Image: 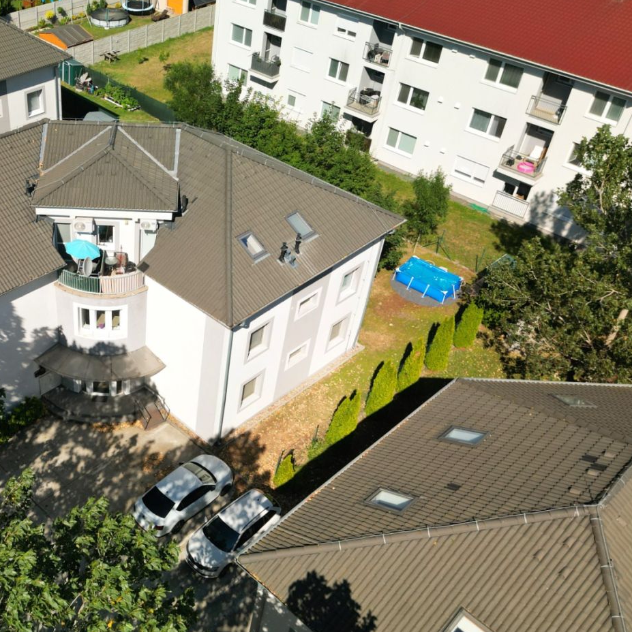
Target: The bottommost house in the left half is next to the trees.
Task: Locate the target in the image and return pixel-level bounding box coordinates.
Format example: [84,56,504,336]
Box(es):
[0,110,408,454]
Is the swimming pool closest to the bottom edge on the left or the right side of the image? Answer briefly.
right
